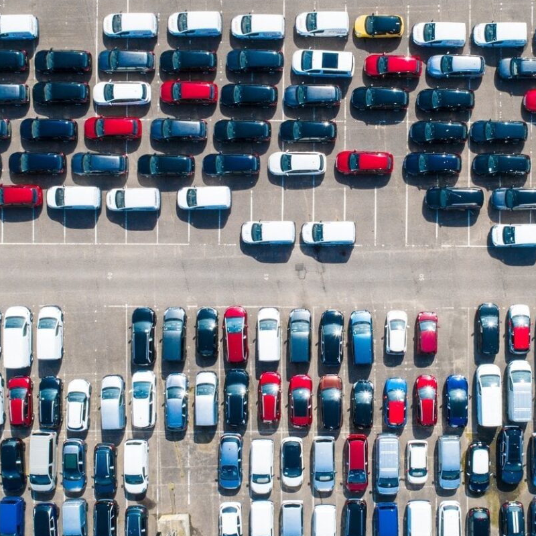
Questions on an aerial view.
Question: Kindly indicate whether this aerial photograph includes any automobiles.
Yes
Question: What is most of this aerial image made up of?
paved ground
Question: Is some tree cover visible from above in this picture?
No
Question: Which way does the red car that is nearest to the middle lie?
from top to bottom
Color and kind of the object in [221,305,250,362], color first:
red car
